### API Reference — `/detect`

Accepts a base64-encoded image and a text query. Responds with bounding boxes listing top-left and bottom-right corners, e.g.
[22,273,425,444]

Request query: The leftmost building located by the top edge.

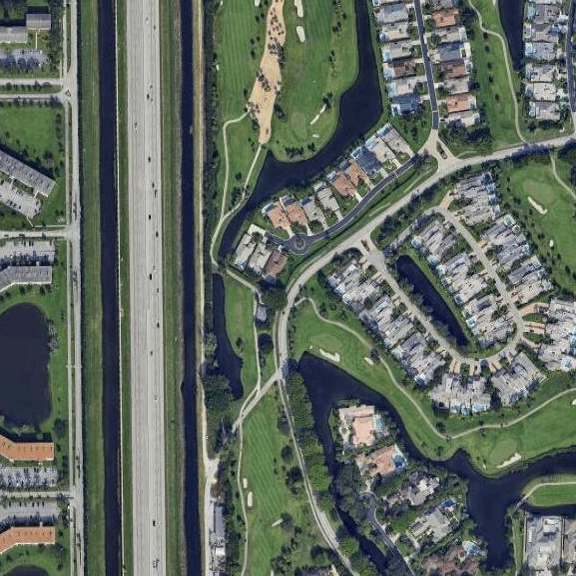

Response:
[0,26,26,45]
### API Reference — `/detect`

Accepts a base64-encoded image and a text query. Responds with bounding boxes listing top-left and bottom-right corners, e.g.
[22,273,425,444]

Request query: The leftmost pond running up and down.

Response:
[0,301,53,430]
